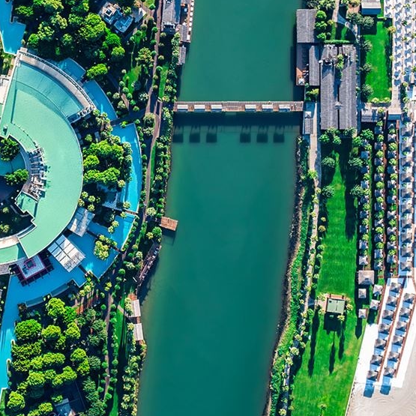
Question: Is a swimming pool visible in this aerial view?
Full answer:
Yes, a swimming pool appears in the view.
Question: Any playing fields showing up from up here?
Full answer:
No, no playing field is visible in the scene.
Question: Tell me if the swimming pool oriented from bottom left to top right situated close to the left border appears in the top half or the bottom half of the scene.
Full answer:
The swimming pool oriented from bottom left to top right situated close to the left border is in the bottom half of the image.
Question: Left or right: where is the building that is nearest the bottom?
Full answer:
You can find the building that is nearest the bottom on the left side of the picture.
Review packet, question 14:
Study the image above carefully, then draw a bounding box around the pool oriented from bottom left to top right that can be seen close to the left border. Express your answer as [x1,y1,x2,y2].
[0,231,121,402]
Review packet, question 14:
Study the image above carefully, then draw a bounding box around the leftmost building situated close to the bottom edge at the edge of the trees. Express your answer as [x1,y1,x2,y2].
[49,381,83,416]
